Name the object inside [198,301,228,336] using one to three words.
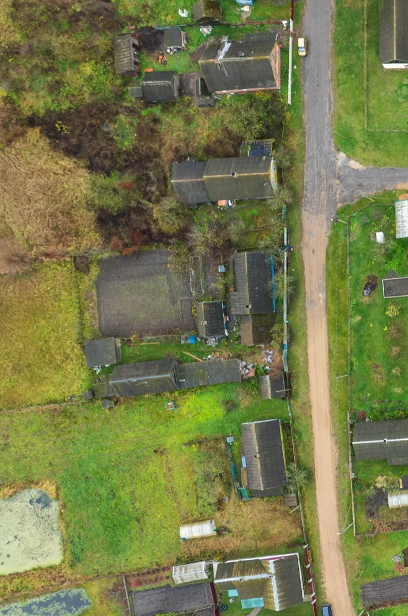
shed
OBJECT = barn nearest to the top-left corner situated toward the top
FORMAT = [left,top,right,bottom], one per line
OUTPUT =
[115,32,147,76]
